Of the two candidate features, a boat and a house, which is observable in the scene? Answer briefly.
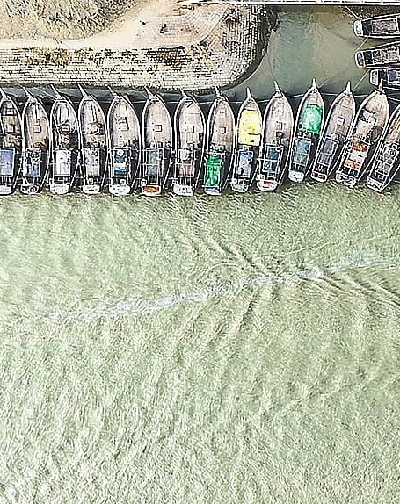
boat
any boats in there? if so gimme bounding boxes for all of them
[288,78,324,182]
[372,66,400,91]
[234,88,263,194]
[77,82,107,196]
[172,90,206,198]
[0,88,23,196]
[140,86,172,198]
[355,14,400,40]
[105,86,138,197]
[311,81,354,181]
[19,83,49,196]
[48,85,78,196]
[367,109,400,192]
[257,80,293,192]
[203,87,236,197]
[337,79,387,187]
